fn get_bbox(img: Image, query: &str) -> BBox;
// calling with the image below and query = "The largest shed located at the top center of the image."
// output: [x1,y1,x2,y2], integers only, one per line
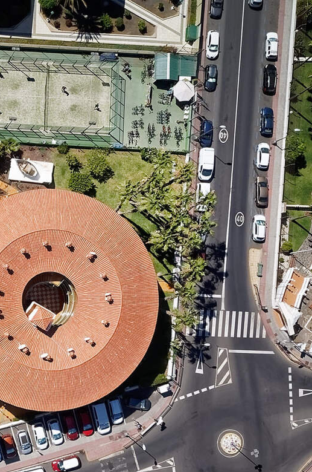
[150,52,197,84]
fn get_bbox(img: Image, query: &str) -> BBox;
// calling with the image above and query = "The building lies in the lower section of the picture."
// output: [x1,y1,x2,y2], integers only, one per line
[0,189,159,410]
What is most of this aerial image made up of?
paved ground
